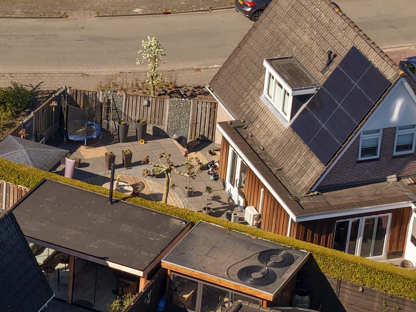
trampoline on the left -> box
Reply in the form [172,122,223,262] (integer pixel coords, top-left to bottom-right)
[68,92,108,148]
